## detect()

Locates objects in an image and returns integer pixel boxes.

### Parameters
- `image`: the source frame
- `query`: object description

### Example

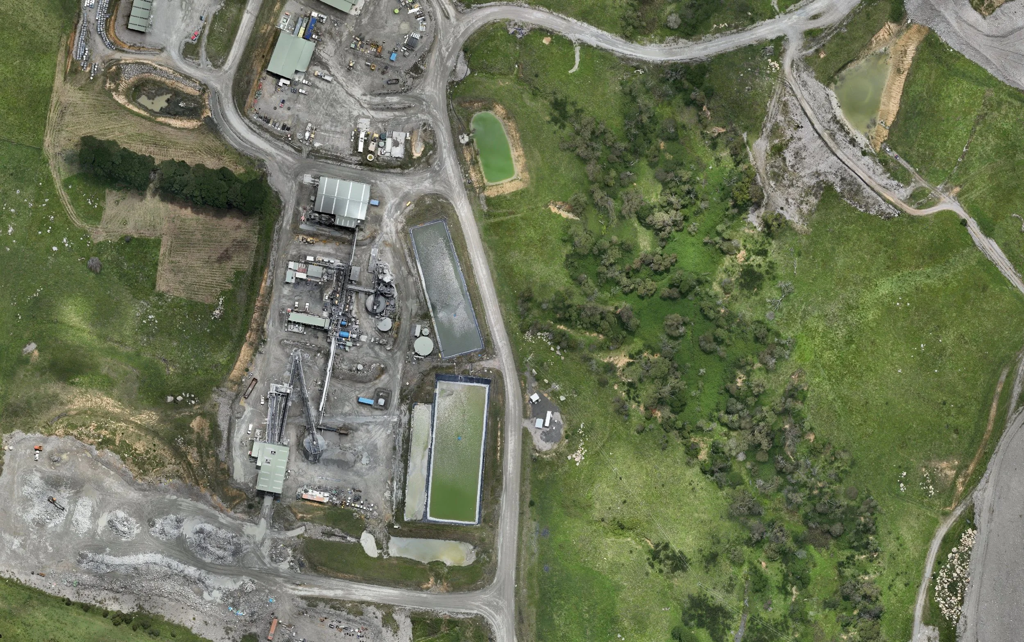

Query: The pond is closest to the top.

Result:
[410,219,484,360]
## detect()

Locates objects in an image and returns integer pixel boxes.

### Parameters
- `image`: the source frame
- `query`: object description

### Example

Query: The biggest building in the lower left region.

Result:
[254,443,289,496]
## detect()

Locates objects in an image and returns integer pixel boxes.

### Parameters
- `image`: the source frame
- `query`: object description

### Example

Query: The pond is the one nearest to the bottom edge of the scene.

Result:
[389,534,478,568]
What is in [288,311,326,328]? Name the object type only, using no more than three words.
building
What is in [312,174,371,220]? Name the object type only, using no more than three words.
building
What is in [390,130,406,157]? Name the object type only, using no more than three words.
shed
